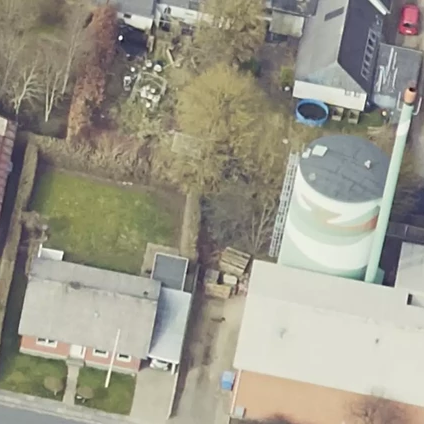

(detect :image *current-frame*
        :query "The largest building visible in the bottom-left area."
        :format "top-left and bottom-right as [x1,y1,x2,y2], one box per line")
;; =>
[19,257,161,372]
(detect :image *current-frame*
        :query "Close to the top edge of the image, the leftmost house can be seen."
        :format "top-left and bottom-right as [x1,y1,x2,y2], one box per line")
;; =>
[117,0,158,39]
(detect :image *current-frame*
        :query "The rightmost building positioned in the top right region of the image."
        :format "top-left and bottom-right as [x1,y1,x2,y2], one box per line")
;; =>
[365,43,424,125]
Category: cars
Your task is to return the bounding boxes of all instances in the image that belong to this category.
[148,357,168,370]
[398,6,420,39]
